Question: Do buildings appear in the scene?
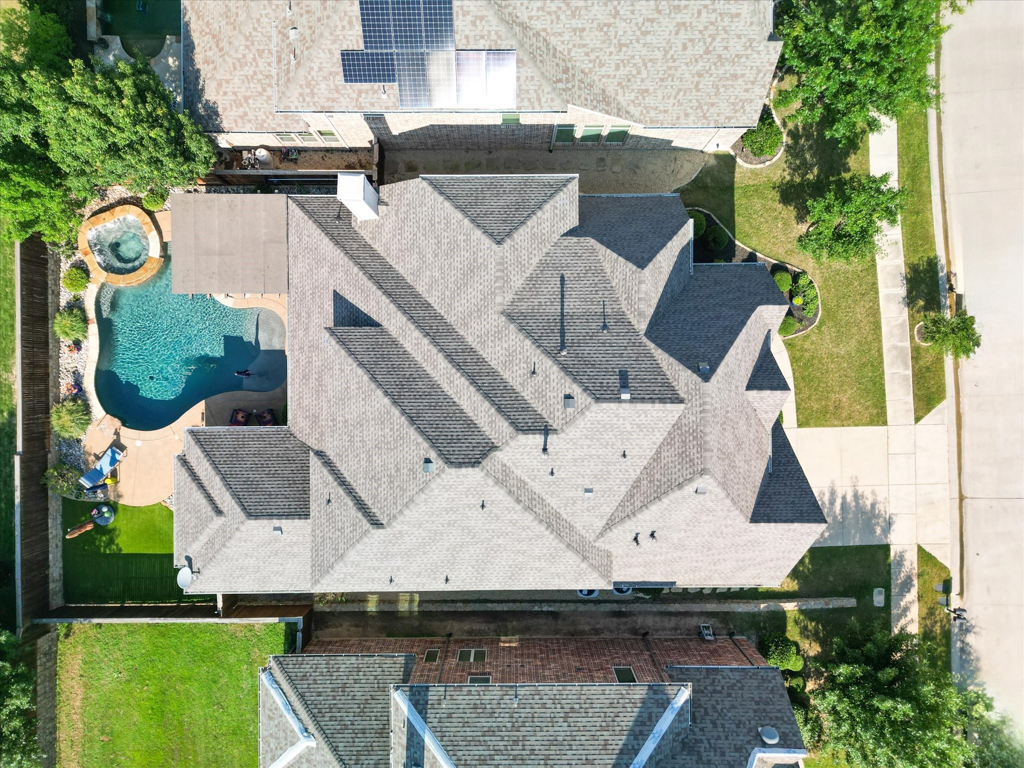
Yes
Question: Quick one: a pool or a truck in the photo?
pool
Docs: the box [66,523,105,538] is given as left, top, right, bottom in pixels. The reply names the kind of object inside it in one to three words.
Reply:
umbrella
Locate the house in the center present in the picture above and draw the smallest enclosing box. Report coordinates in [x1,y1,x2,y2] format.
[171,172,826,596]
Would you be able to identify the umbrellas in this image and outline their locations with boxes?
[84,482,119,493]
[66,523,105,538]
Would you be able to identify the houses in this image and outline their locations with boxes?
[259,632,809,768]
[181,0,785,154]
[171,172,826,596]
